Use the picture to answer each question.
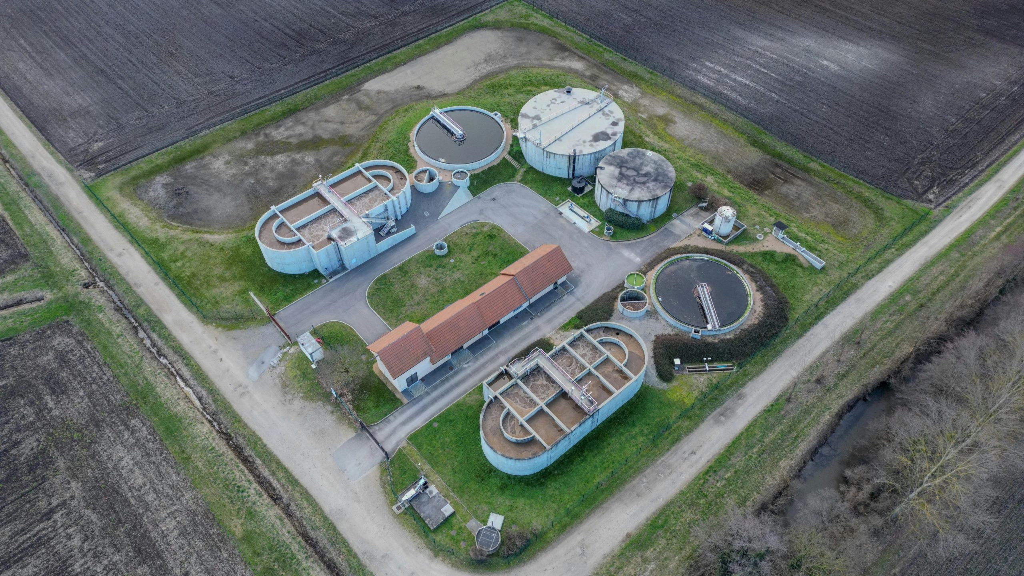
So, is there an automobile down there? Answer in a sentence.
No, there is no automobile in the image.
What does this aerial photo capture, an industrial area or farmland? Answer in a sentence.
The picture captures an industrial area.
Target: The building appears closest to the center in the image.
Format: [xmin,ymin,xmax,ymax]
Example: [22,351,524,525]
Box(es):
[367,243,575,391]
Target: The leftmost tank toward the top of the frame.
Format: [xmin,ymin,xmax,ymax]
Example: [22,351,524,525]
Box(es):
[257,159,417,282]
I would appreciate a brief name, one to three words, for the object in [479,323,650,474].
storage tank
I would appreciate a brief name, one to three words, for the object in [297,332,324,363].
shed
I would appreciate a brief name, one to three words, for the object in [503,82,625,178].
storage tank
